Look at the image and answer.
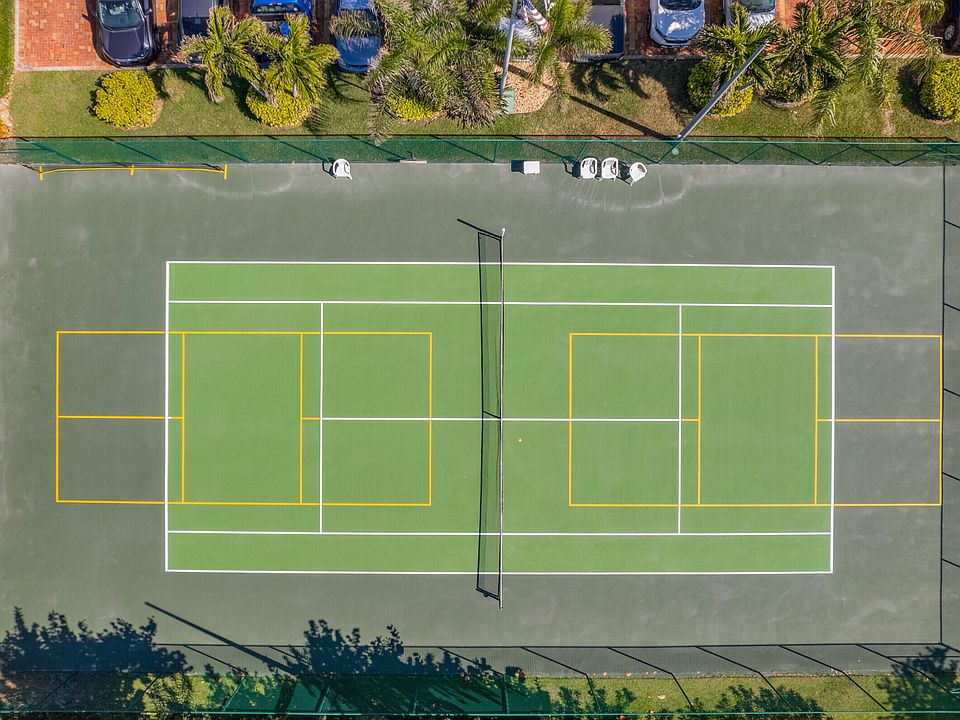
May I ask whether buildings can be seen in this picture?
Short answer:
No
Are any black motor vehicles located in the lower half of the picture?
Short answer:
No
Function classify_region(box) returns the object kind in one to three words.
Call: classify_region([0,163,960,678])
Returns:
tennis court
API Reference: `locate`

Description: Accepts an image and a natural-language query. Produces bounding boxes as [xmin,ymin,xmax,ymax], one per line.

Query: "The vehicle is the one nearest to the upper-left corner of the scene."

[86,0,157,67]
